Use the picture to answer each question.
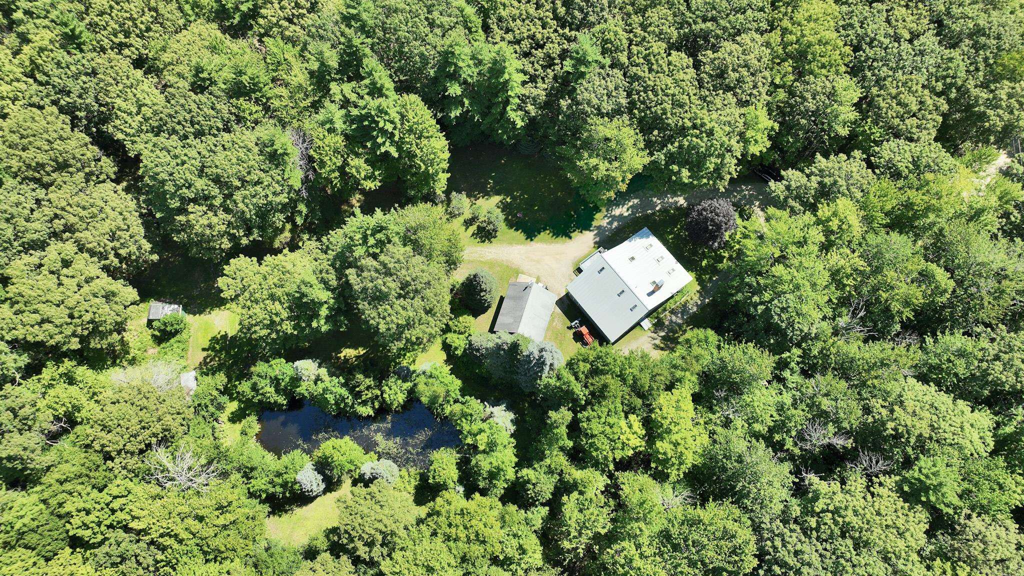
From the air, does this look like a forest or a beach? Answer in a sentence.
The picture captures a forest.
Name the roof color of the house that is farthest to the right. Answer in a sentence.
The color of the roof on the house that is farthest to the right is white.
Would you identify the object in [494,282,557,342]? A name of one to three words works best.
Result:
building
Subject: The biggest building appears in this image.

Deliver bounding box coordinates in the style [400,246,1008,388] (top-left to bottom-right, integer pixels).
[565,227,693,344]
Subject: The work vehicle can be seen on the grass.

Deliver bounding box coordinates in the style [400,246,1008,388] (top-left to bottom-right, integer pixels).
[569,320,597,350]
